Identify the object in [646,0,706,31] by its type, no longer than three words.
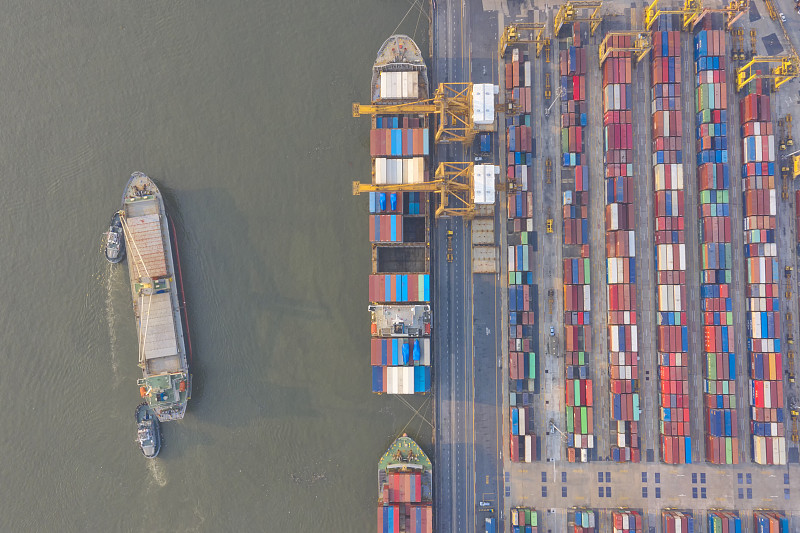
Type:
container crane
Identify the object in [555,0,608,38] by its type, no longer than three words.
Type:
container crane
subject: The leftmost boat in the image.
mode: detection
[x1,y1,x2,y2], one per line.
[102,212,127,263]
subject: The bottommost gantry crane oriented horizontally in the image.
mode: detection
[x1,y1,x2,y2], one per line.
[352,158,538,228]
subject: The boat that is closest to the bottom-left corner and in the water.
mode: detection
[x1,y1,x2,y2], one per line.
[133,402,162,459]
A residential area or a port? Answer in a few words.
port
